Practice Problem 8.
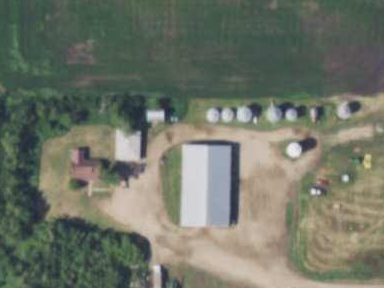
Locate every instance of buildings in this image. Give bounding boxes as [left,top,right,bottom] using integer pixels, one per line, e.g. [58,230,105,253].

[116,130,141,160]
[180,144,231,228]
[146,109,163,121]
[71,148,100,181]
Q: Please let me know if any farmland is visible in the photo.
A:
Yes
